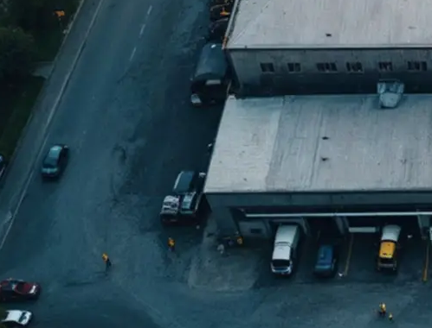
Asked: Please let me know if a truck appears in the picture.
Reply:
Yes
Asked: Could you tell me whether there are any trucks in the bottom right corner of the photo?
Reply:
Yes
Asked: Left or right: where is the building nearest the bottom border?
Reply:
right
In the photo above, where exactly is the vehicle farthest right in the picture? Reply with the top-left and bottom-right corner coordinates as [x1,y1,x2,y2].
[369,211,402,270]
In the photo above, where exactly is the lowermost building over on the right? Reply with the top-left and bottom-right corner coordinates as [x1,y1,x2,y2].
[203,79,432,234]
